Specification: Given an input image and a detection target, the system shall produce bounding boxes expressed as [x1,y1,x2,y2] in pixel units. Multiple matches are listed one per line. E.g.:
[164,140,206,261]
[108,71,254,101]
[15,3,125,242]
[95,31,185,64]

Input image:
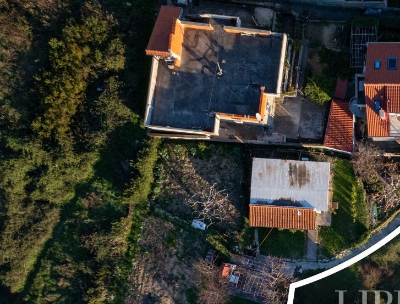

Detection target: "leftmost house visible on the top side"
[144,5,296,142]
